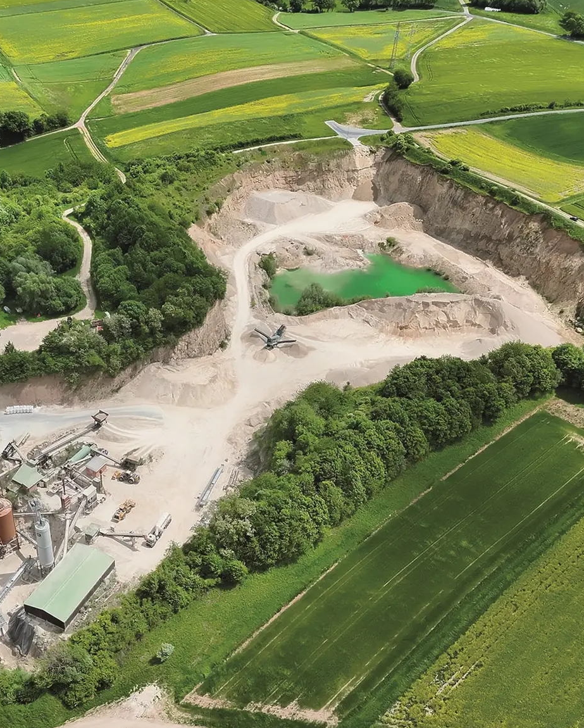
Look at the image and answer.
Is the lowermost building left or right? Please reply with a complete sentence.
The lowermost building sits on the left side.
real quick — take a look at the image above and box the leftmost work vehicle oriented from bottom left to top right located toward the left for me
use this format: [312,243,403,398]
[109,496,135,524]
